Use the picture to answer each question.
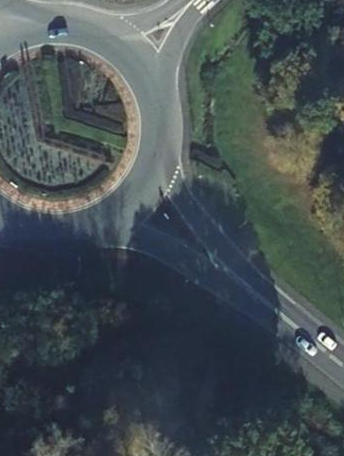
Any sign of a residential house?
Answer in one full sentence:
No, this view has no residential house in it.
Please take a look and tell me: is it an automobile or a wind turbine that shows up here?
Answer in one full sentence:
I can see an automobile in this picture.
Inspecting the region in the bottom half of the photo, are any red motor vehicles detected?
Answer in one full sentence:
No, the scene shows no red motor vehicle in the bottom half of the photo.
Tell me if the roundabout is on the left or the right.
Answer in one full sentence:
It is on the left.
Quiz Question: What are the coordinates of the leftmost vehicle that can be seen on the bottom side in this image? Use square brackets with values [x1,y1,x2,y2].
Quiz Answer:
[296,336,318,357]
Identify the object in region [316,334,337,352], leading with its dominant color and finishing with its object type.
white car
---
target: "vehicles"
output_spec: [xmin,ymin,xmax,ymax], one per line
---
[296,336,318,357]
[316,334,337,352]
[48,26,68,38]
